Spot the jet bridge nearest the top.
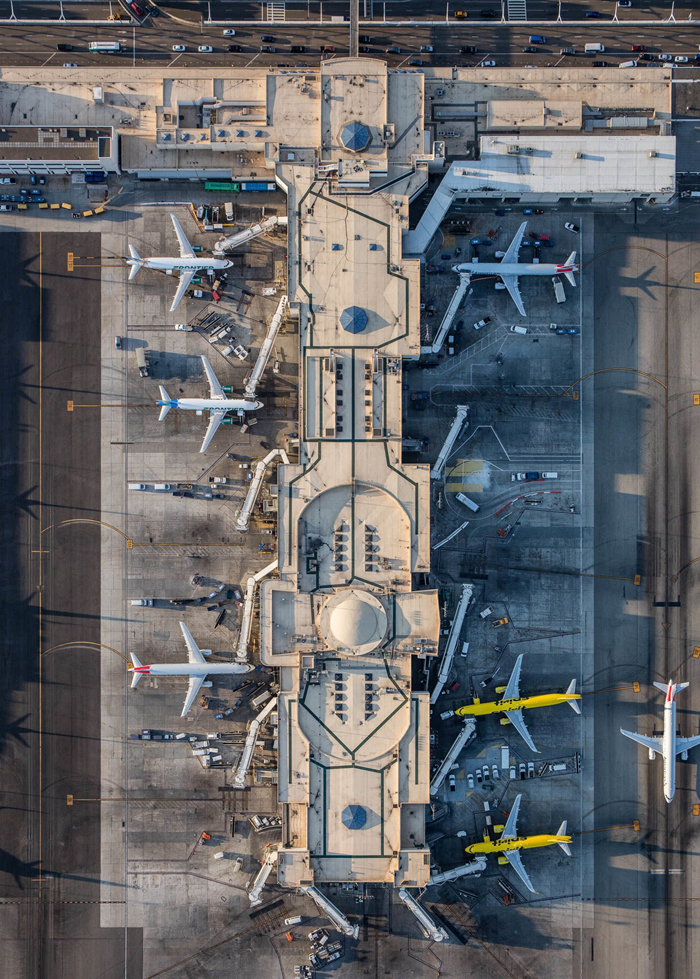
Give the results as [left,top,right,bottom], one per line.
[210,214,288,261]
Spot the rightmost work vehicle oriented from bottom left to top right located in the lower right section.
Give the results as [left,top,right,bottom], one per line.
[536,760,551,778]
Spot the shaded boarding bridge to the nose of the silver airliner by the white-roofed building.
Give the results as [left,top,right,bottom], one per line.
[420,270,474,356]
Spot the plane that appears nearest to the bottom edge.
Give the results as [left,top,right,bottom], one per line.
[465,794,575,898]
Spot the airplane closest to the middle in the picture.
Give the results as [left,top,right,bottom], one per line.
[157,352,264,455]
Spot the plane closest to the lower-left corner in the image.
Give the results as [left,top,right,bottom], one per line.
[127,620,255,718]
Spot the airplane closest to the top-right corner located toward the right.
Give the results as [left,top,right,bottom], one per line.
[451,220,580,317]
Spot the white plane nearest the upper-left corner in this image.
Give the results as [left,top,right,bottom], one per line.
[125,209,234,315]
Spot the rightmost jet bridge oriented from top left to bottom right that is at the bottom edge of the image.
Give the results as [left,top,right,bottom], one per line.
[396,887,449,943]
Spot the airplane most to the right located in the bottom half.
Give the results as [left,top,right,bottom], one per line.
[621,680,700,802]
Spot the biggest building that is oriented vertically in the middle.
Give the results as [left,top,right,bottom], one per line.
[261,163,441,887]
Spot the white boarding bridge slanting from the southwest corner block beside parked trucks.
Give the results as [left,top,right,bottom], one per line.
[304,883,361,934]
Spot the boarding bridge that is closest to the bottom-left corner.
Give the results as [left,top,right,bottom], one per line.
[249,847,277,906]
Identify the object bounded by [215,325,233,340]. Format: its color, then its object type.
white vehicle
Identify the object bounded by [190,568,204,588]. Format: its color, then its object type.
gray vehicle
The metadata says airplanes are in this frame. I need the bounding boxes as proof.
[621,680,700,802]
[127,620,255,718]
[157,352,264,455]
[455,651,583,755]
[125,209,234,315]
[451,220,580,317]
[465,794,575,898]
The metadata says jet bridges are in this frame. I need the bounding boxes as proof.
[235,558,278,664]
[242,293,288,400]
[234,447,293,533]
[425,848,491,889]
[430,580,474,704]
[430,713,479,795]
[249,847,277,906]
[420,270,474,356]
[304,883,361,934]
[235,695,278,790]
[430,402,468,480]
[396,887,449,943]
[210,214,288,261]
